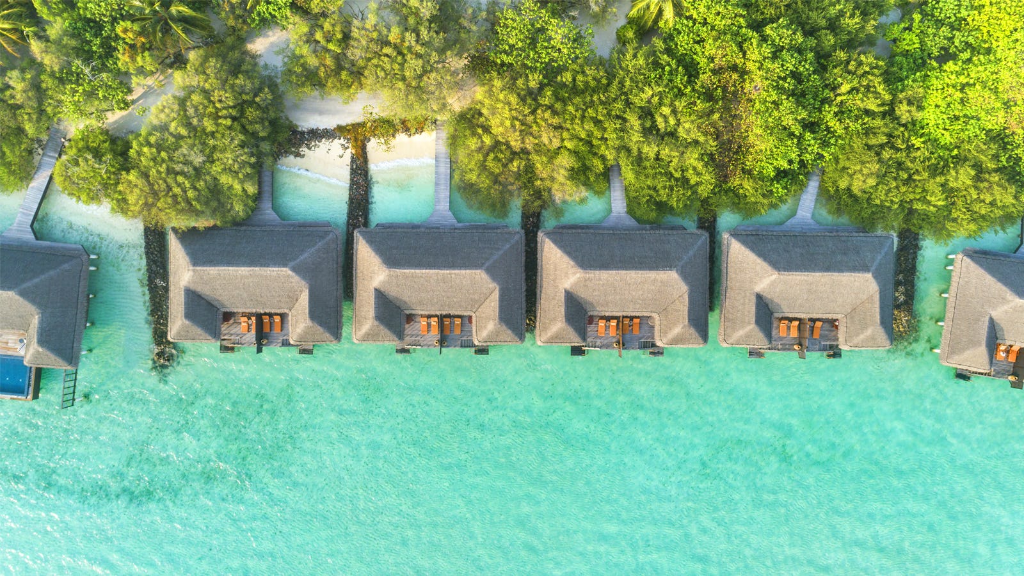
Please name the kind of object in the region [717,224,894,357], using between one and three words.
house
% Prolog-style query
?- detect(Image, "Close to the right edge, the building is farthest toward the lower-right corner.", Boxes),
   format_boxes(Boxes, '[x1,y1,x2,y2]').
[927,248,1024,391]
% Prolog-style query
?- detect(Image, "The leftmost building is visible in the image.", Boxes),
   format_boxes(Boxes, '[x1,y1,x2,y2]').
[0,239,101,369]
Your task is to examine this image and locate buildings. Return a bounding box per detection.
[534,223,711,356]
[351,222,527,355]
[927,248,1024,391]
[168,222,344,354]
[717,224,894,357]
[0,239,101,369]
